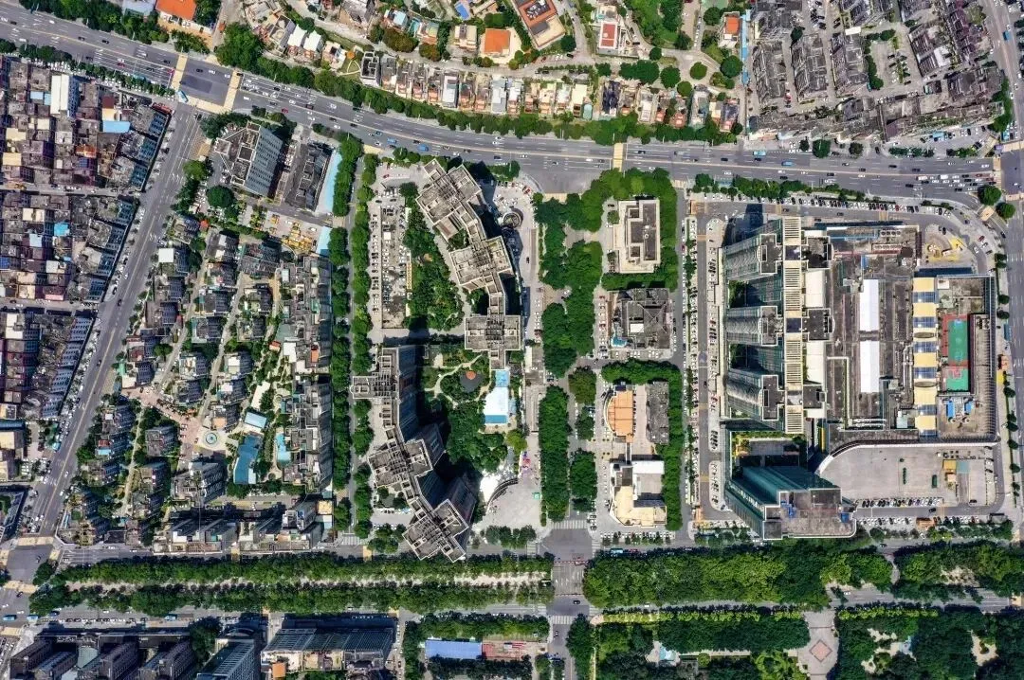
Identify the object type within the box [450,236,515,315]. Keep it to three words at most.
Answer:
building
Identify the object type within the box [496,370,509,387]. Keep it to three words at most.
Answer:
swimming pool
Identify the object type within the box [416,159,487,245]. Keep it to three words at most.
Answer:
building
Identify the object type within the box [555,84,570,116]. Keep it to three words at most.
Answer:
house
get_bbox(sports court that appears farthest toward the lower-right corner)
[941,367,964,390]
